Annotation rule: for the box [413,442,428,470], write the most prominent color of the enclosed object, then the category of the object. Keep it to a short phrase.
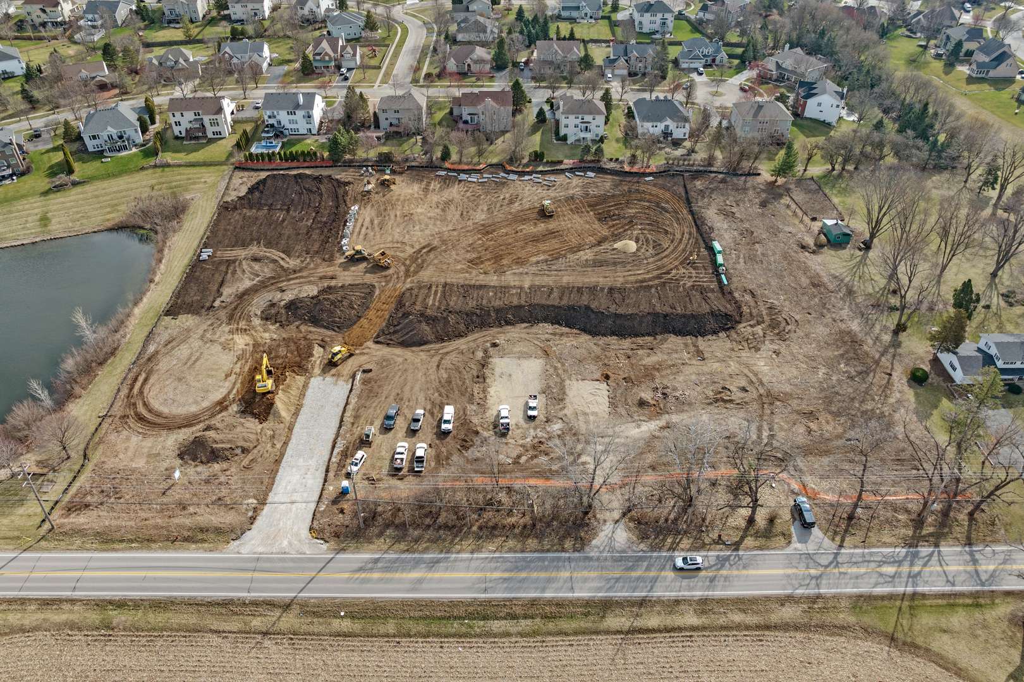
white vehicle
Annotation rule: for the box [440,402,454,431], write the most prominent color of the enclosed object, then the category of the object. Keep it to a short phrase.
white vehicle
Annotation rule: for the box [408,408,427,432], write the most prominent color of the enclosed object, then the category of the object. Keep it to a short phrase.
gray vehicle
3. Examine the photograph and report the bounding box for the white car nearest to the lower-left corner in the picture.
[346,450,366,474]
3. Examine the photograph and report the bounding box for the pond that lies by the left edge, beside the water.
[0,227,156,418]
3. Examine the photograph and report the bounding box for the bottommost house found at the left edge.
[0,130,55,184]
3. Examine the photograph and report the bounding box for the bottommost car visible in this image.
[673,553,704,569]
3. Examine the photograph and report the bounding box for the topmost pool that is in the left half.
[248,137,283,154]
